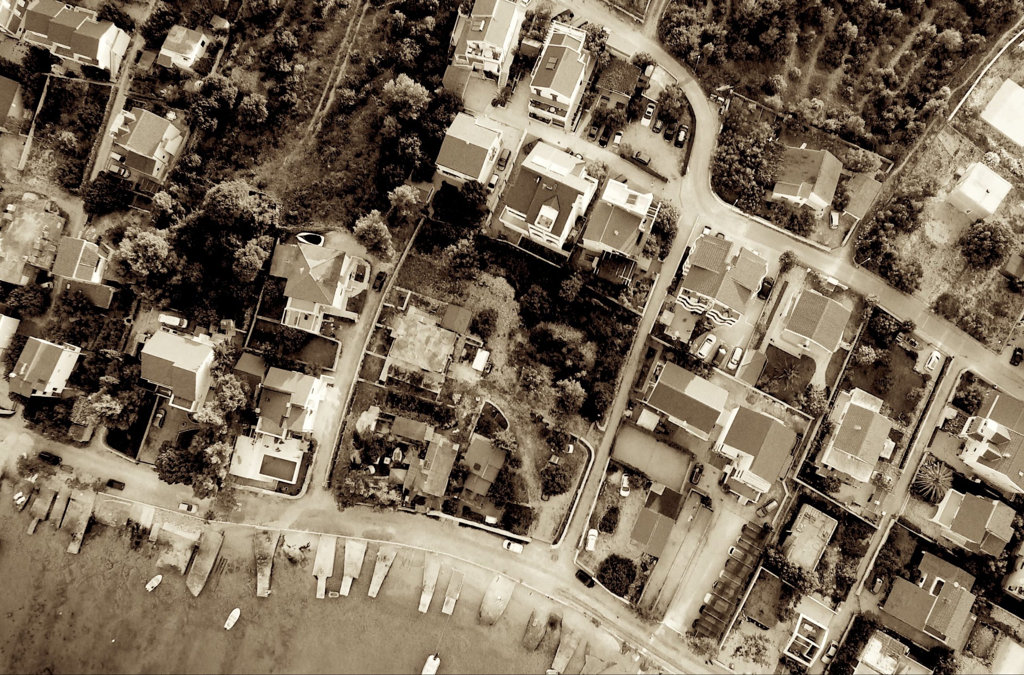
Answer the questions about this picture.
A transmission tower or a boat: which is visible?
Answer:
boat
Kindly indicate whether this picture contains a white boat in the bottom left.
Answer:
Yes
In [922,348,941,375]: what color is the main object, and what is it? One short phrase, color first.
white car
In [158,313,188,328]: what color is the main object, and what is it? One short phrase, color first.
white vehicle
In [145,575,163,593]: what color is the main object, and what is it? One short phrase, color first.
white boat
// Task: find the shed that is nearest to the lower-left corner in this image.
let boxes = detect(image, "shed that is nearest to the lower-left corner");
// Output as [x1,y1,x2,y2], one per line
[69,420,101,444]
